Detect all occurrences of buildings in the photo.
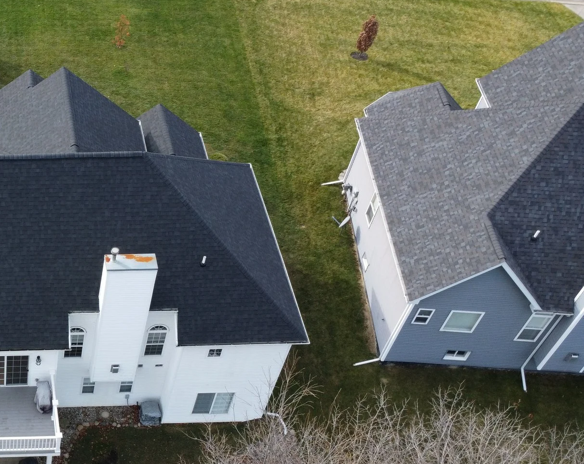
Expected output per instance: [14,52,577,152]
[0,66,313,424]
[343,26,584,387]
